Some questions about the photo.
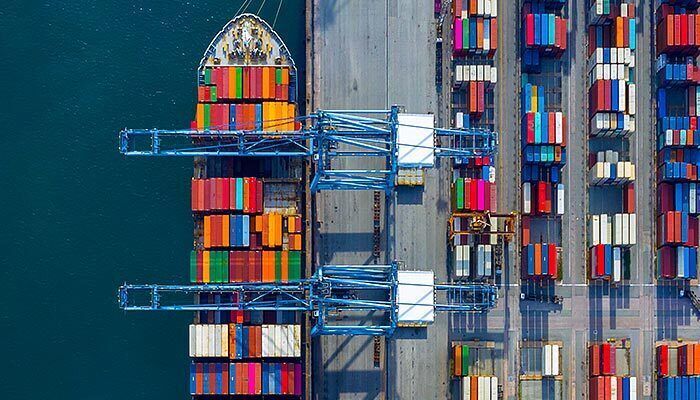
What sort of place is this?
port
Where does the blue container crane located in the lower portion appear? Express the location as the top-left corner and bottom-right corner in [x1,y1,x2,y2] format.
[117,261,498,346]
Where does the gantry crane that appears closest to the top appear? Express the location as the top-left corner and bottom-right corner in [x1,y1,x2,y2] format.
[117,105,498,210]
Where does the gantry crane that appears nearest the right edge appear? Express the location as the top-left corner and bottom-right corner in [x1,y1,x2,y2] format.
[448,205,516,250]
